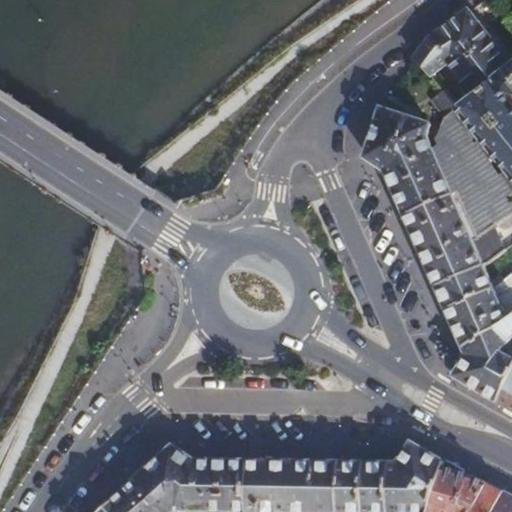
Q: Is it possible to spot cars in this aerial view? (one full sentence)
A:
Yes, the image includes a car.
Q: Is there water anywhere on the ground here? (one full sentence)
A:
Yes, water can be seen from above here.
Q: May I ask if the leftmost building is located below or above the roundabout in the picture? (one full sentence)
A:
As seen from overhead, the leftmost building falls below the roundabout in the picture.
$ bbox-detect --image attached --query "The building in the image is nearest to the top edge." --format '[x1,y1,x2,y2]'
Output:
[408,6,500,78]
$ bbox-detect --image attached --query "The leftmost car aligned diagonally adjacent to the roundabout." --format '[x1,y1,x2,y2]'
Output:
[168,248,186,267]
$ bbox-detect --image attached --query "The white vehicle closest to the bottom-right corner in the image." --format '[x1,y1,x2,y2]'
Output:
[410,406,432,426]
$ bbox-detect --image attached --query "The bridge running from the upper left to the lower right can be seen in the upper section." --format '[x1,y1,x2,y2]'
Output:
[0,91,180,252]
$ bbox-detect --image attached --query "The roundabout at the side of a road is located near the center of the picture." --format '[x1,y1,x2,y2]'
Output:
[185,220,328,364]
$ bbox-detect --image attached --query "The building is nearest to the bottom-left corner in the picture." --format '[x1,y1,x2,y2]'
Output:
[92,442,241,512]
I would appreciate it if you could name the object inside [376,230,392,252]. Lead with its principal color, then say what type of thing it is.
white car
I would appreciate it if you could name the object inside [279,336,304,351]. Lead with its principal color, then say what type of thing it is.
white vehicle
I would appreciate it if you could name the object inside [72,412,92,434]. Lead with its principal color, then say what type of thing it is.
white car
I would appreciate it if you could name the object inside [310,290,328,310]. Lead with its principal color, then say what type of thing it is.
white vehicle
